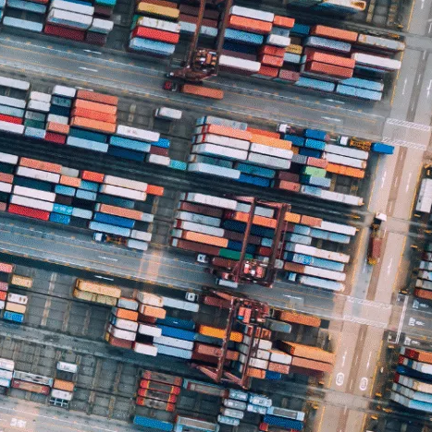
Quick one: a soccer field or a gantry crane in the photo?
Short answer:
gantry crane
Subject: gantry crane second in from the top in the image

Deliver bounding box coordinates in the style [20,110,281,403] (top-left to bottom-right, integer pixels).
[206,191,288,286]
